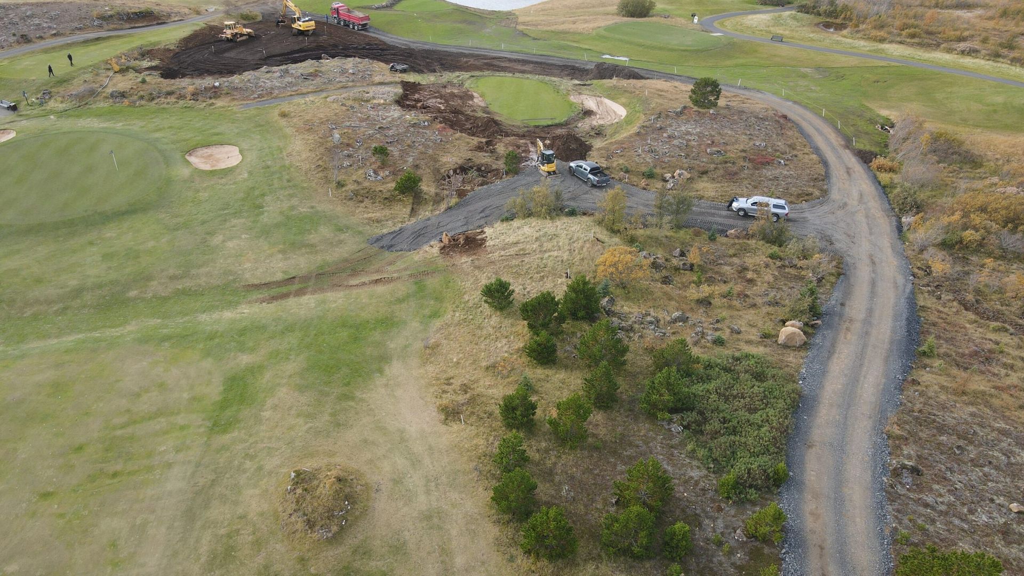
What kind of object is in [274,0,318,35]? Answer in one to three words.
work vehicle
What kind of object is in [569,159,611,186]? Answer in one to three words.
truck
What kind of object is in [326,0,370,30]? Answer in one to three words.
truck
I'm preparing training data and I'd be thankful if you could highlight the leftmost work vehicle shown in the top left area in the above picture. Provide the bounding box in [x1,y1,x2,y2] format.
[217,18,256,40]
